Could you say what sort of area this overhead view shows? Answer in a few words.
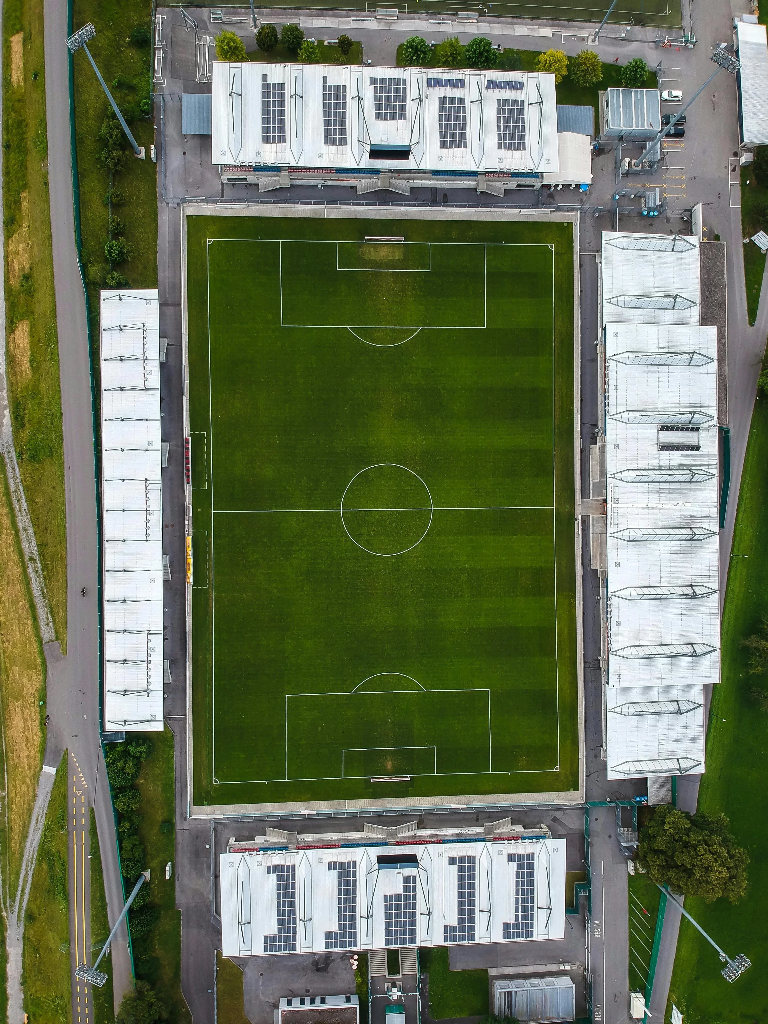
sports ground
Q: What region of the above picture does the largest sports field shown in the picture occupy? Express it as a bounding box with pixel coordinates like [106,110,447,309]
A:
[187,215,579,806]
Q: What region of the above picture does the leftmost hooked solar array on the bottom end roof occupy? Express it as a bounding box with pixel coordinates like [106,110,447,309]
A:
[263,864,297,953]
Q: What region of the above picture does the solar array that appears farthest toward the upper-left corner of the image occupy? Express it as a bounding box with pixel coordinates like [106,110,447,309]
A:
[262,74,286,144]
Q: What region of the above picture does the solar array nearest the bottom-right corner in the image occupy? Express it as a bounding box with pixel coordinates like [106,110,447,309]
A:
[502,853,535,940]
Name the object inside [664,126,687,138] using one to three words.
vehicle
